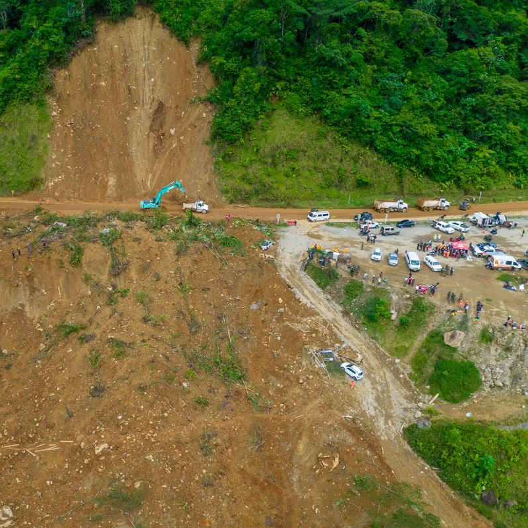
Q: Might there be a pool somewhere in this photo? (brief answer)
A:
No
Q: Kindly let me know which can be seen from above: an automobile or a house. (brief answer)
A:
automobile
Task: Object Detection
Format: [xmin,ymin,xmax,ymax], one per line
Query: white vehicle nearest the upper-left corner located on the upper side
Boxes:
[181,198,210,213]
